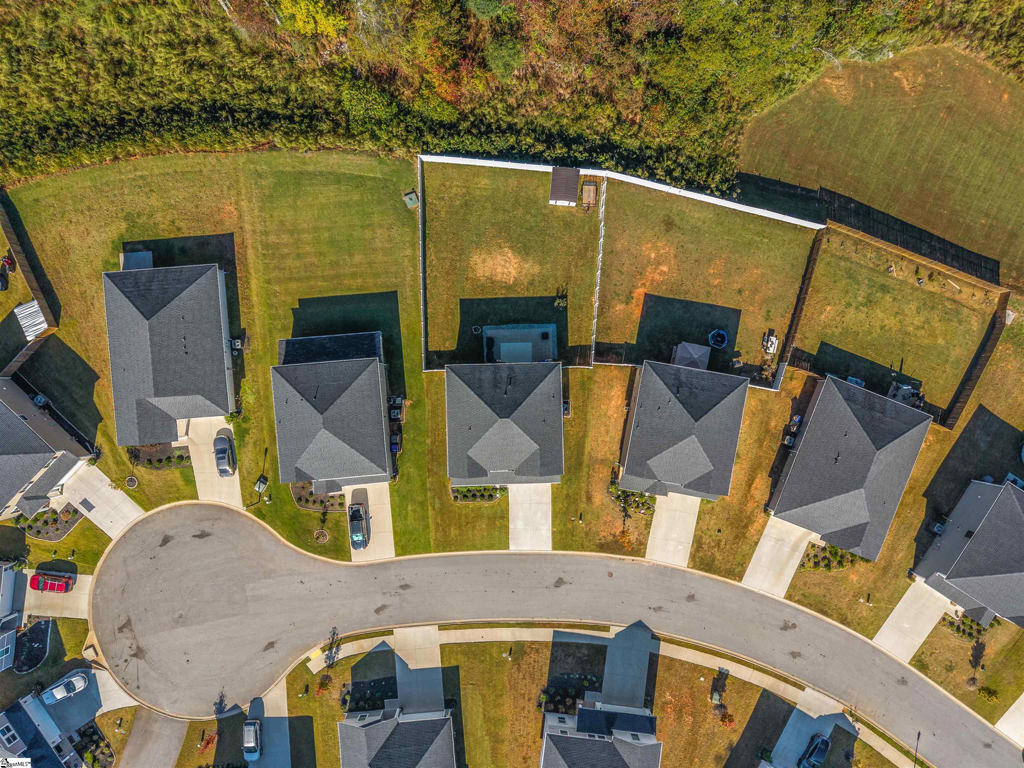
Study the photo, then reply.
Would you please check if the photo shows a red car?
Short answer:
Yes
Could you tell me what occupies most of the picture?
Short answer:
grass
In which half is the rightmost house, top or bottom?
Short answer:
bottom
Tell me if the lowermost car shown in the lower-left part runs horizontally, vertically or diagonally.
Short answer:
vertically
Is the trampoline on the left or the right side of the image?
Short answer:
right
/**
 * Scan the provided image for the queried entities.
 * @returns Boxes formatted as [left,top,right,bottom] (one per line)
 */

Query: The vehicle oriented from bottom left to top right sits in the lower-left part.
[43,671,89,706]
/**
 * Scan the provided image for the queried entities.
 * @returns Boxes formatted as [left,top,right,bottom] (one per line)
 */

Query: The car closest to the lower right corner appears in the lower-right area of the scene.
[796,734,829,768]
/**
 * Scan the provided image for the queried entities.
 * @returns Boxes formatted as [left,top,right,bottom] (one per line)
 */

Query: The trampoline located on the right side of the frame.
[709,328,731,349]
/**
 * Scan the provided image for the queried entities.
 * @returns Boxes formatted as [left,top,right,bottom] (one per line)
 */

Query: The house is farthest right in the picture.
[904,480,1024,641]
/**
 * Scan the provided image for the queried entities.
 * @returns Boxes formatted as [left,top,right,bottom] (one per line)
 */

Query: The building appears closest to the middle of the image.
[445,362,564,487]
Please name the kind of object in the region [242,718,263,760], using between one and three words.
car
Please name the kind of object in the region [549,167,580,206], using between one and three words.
shed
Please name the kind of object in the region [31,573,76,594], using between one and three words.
car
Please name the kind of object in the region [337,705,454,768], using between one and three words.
house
